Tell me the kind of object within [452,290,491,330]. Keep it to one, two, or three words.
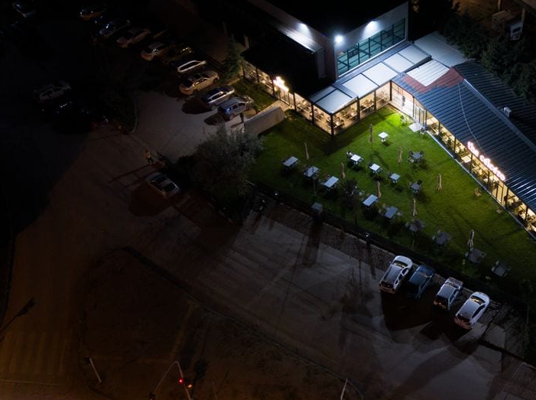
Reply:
car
